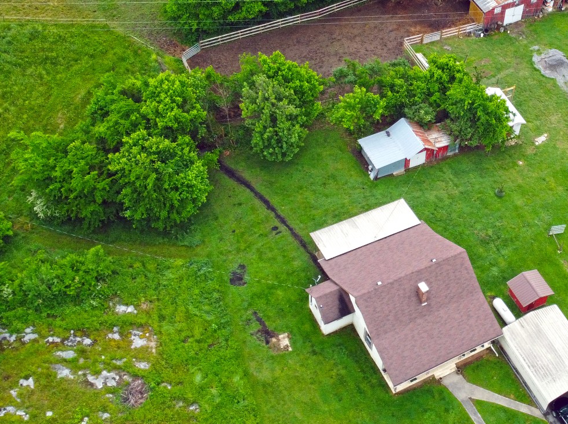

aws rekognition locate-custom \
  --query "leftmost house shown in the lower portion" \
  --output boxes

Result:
[305,200,504,394]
